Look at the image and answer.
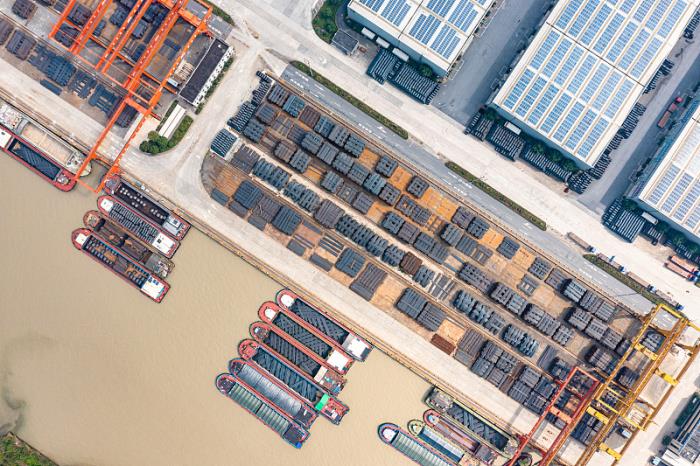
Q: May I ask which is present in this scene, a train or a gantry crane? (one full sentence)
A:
Of the two, only a gantry crane appears.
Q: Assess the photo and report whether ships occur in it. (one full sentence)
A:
Yes, you can see a ship in this photo.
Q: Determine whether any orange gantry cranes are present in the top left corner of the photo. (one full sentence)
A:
Yes, looking in the top left corner of the photo, one can make out an orange gantry crane.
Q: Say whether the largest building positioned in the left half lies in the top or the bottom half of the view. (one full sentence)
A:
The largest building positioned in the left half sits in the top half of the picture.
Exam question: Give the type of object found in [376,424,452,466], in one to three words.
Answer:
ship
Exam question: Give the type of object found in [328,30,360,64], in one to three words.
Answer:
shed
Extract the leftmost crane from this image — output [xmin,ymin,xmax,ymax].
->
[49,0,107,51]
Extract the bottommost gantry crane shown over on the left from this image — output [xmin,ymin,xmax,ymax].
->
[73,92,161,194]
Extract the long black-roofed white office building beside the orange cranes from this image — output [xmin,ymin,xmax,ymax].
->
[178,39,234,108]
